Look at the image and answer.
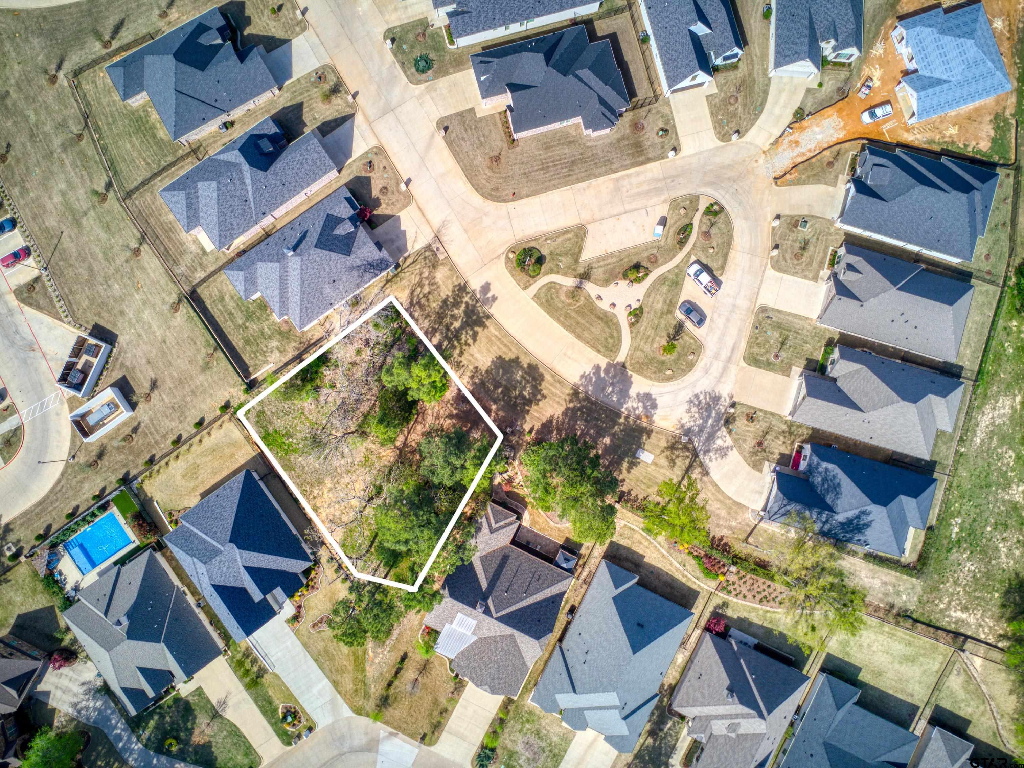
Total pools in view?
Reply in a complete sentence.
Altogether the scene contains 1 pool.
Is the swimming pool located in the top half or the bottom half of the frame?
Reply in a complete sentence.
The swimming pool is in the bottom half of the image.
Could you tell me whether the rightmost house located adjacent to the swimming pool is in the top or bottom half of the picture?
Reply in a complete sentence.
The bottom half of the photo is where the rightmost house located adjacent to the swimming pool is.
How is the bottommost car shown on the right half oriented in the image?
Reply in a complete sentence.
In this picture, the bottommost car shown on the right half is oriented at an angle.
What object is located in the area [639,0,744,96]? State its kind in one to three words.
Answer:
house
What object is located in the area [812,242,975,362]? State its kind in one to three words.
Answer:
house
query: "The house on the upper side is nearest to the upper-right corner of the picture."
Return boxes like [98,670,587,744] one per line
[887,2,1012,128]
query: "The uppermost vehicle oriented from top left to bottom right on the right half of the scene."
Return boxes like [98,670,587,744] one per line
[686,259,724,299]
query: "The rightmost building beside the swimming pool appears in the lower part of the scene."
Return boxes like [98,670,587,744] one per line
[163,468,317,643]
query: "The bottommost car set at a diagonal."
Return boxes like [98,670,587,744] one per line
[677,298,710,331]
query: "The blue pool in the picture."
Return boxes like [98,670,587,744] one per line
[62,510,133,577]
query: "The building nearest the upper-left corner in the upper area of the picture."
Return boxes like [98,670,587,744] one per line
[105,6,283,147]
